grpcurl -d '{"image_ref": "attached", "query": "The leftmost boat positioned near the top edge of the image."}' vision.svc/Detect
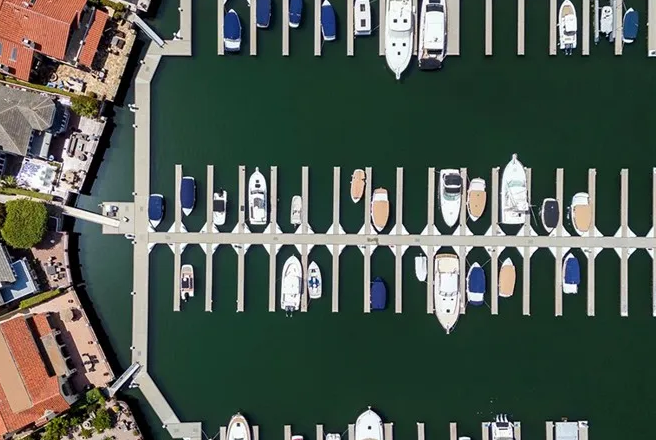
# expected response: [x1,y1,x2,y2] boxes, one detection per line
[224,3,249,52]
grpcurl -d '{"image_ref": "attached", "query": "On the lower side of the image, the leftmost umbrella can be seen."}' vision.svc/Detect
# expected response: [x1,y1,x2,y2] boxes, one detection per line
[62,307,76,321]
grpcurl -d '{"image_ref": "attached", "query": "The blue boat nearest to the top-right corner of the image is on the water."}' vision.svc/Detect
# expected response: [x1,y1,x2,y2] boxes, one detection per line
[620,0,639,46]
